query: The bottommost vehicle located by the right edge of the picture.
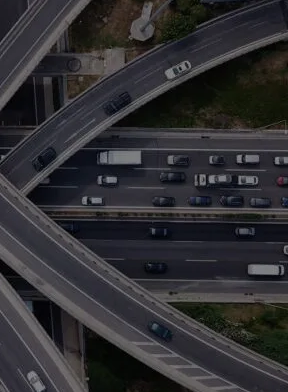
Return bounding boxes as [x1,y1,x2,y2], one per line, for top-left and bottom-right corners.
[246,264,283,276]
